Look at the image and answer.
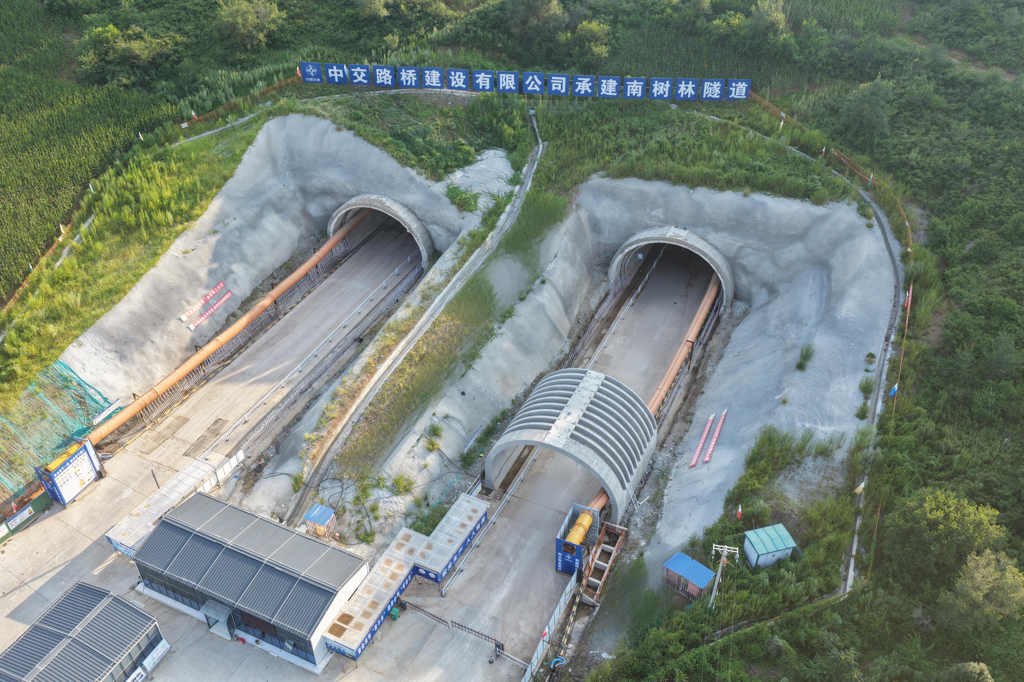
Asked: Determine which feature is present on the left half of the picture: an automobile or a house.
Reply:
house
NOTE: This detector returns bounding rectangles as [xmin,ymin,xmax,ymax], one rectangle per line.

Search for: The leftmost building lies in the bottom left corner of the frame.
[0,580,159,682]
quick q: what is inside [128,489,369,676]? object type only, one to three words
house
